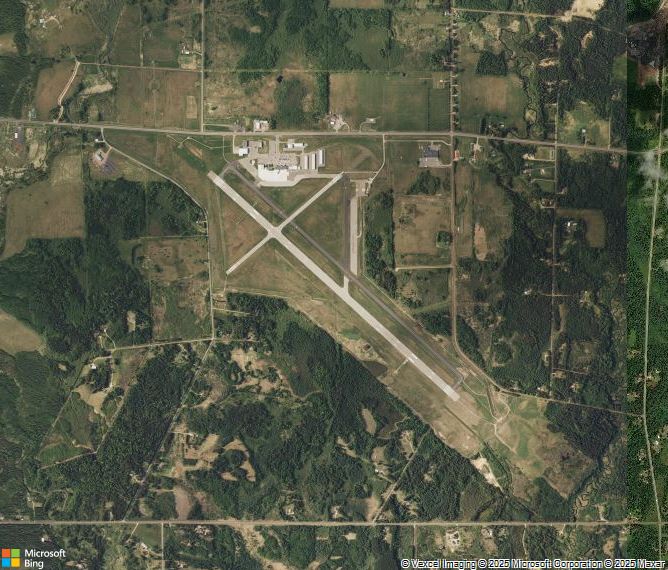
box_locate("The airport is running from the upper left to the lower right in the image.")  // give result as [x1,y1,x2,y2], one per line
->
[192,135,592,500]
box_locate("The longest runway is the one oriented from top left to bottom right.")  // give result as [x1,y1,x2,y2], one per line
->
[207,171,460,400]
